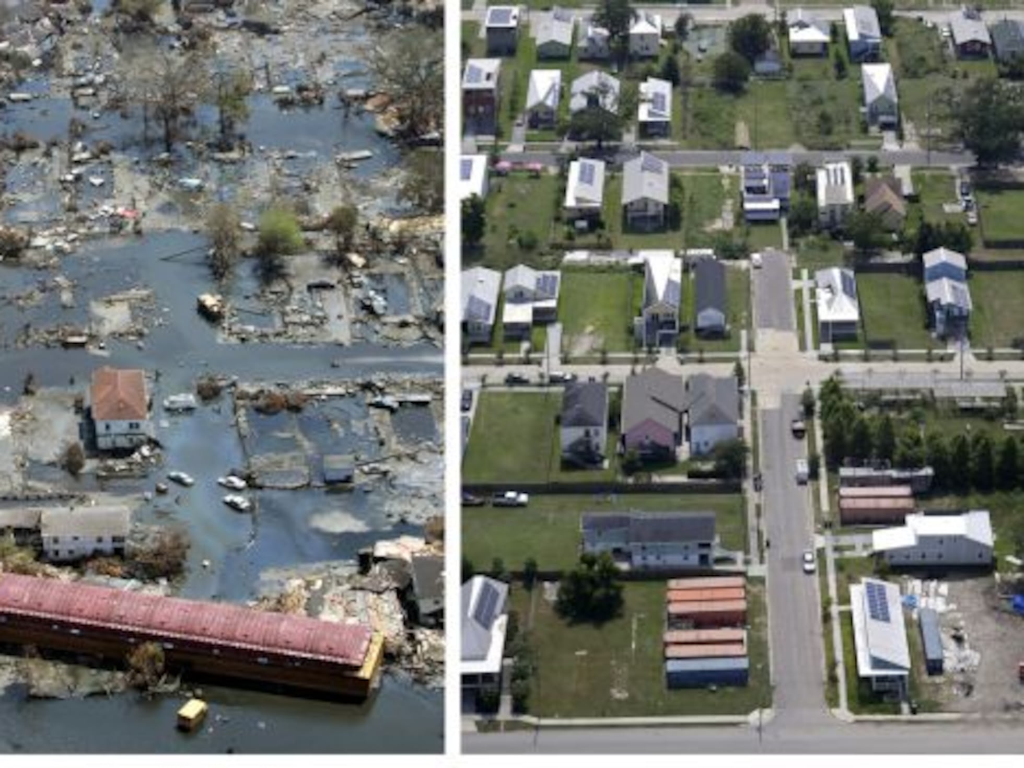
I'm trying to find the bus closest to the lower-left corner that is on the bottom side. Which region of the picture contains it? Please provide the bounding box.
[178,700,211,732]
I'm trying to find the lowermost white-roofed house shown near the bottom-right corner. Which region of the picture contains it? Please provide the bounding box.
[846,576,909,715]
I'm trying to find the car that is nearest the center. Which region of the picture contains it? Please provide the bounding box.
[505,374,530,386]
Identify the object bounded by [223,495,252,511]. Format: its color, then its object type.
white car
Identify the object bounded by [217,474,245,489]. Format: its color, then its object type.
white car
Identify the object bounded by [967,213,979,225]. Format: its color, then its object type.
gray vehicle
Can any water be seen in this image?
Yes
